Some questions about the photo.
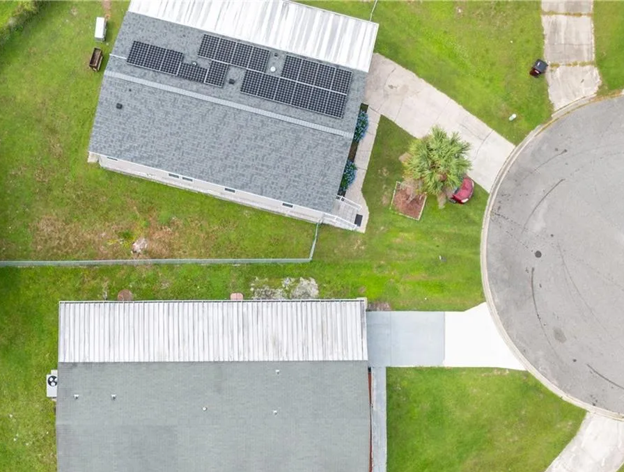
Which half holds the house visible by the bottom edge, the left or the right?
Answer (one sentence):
The house visible by the bottom edge is on the left side of the image.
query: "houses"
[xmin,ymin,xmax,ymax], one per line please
[56,299,372,472]
[91,0,380,222]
